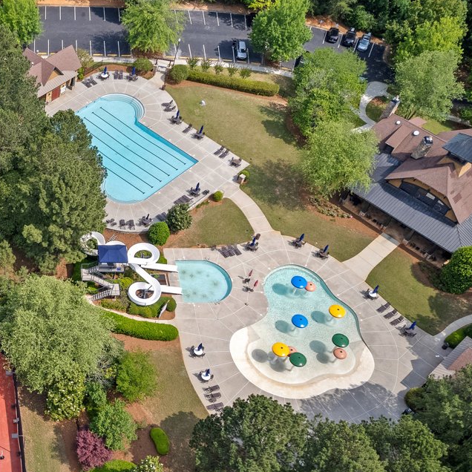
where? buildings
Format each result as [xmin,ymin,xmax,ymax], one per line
[327,97,472,269]
[3,45,82,106]
[421,322,472,415]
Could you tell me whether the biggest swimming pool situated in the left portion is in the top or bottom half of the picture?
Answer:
top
